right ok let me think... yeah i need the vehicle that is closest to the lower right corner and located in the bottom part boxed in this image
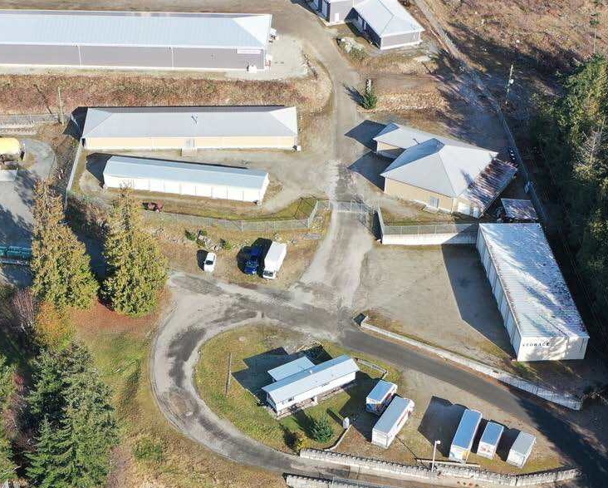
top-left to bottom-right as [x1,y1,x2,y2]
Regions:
[506,430,541,466]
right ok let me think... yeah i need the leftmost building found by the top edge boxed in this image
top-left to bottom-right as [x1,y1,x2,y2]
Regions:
[0,9,273,70]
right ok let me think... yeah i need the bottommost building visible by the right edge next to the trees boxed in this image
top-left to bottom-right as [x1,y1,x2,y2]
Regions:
[475,221,590,359]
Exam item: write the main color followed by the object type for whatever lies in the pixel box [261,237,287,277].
white truck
